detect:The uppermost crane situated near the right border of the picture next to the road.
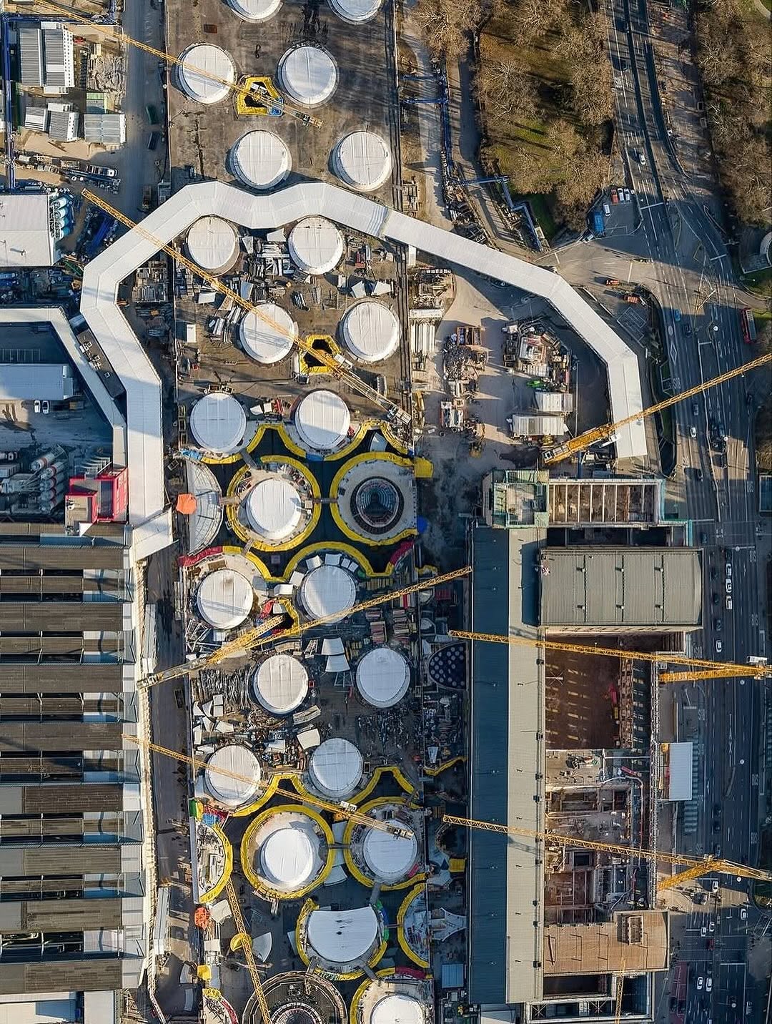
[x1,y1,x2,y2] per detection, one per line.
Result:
[547,352,772,475]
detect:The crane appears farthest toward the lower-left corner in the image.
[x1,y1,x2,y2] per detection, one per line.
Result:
[224,883,292,1024]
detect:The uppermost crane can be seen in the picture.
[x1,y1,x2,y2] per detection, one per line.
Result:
[45,0,321,127]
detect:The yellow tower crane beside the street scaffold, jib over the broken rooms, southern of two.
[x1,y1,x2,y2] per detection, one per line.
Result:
[443,815,772,881]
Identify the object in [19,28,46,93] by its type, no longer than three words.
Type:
building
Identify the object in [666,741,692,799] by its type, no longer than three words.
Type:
building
